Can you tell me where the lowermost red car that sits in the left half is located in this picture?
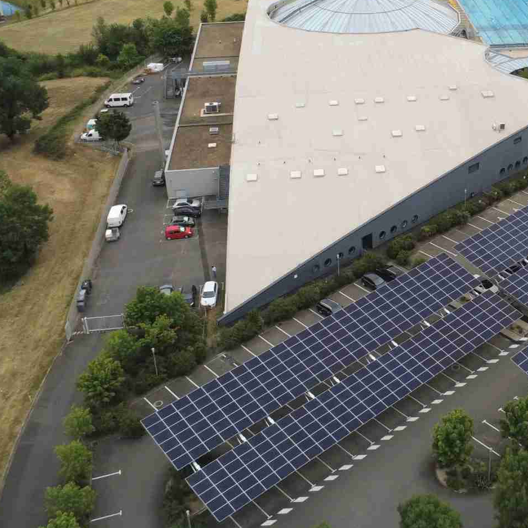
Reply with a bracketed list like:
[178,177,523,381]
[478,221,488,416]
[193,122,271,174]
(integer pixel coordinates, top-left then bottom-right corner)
[163,225,195,239]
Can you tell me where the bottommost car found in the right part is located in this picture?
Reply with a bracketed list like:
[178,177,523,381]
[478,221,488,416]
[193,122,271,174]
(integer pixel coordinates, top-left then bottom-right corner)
[315,298,344,318]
